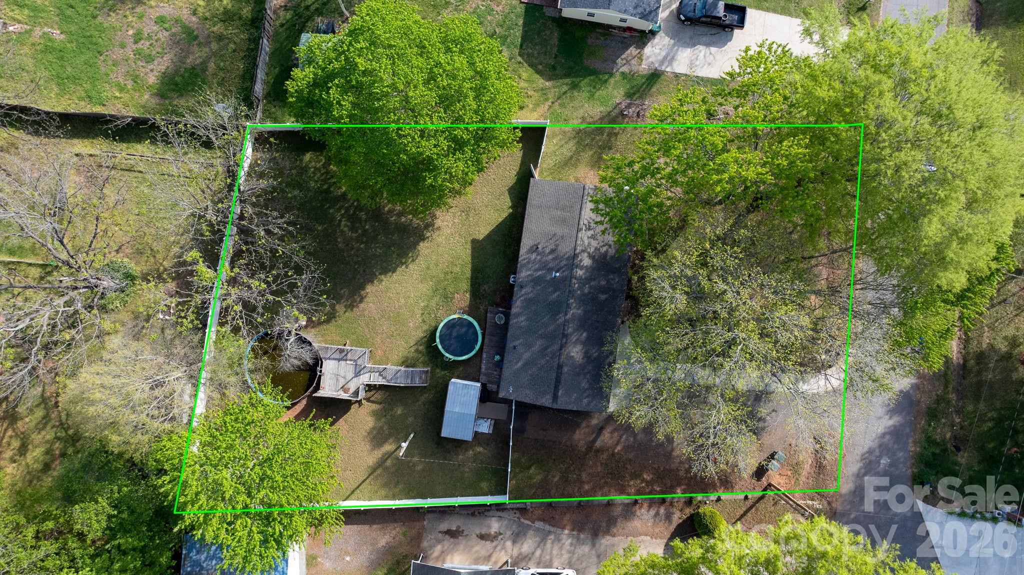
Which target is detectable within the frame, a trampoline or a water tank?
trampoline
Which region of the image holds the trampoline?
center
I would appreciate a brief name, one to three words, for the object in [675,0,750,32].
truck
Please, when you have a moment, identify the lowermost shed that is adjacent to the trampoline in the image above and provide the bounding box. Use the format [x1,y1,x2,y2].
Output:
[441,377,483,442]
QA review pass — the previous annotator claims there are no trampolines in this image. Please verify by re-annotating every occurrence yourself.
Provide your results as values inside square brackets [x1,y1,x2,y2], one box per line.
[430,312,484,365]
